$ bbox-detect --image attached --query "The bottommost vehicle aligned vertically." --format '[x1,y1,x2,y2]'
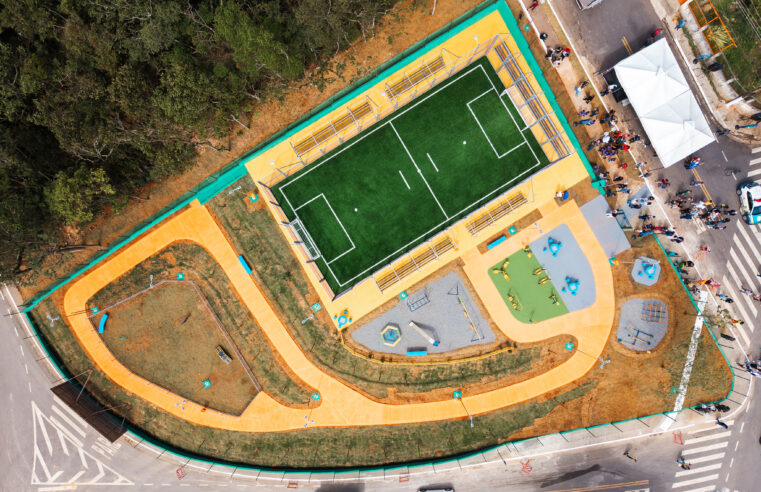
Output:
[739,179,761,223]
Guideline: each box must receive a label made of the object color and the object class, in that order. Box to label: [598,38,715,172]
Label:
white tent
